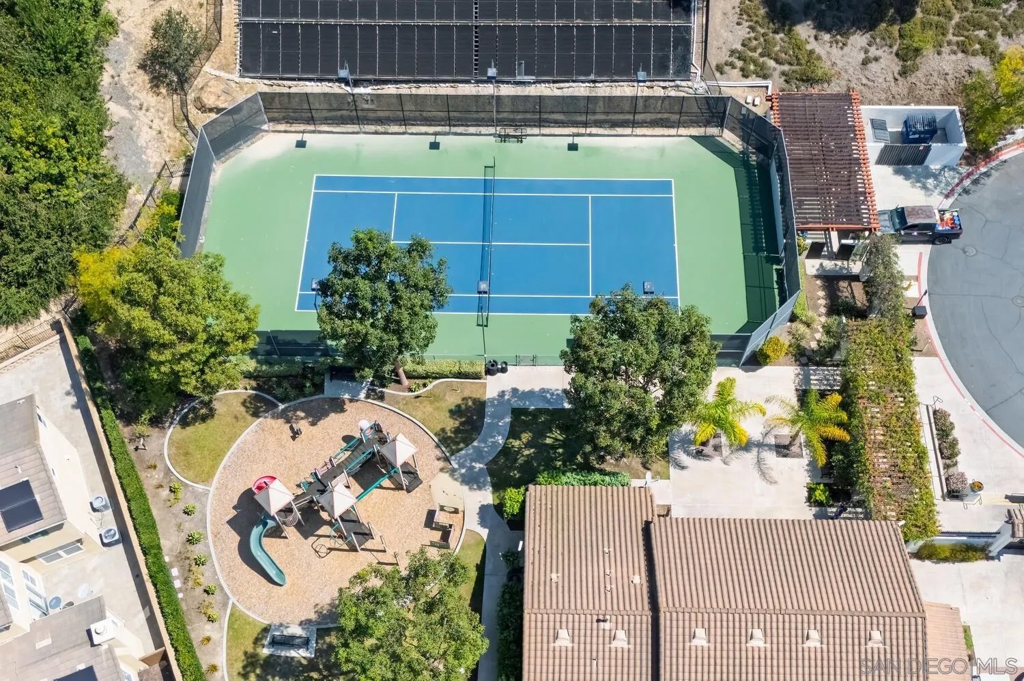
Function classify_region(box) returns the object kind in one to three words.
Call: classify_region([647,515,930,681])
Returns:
building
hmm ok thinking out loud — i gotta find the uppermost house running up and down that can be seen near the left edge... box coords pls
[0,395,106,636]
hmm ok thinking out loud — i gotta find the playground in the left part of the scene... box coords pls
[203,391,469,632]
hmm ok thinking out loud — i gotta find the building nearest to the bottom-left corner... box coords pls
[0,592,148,681]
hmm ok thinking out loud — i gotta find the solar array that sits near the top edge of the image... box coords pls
[229,0,695,84]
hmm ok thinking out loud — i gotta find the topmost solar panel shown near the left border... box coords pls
[0,467,40,530]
